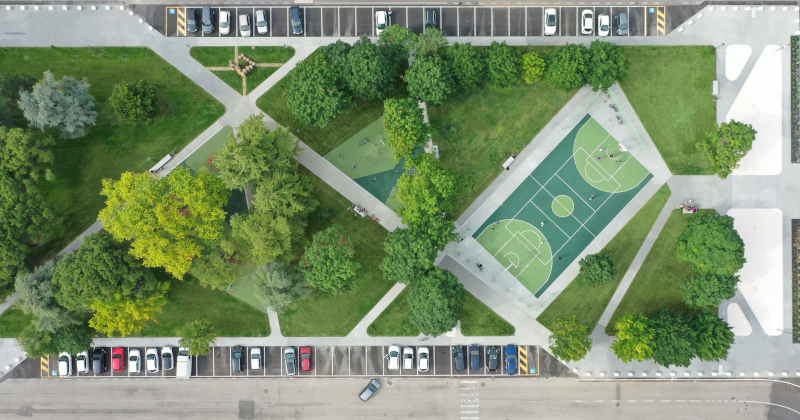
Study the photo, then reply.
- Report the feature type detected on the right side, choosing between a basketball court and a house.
basketball court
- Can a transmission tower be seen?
No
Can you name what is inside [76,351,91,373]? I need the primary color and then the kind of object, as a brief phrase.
white car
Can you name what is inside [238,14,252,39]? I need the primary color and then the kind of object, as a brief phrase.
white vehicle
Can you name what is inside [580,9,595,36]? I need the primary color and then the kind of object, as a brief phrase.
white car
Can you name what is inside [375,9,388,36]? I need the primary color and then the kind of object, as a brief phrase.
white vehicle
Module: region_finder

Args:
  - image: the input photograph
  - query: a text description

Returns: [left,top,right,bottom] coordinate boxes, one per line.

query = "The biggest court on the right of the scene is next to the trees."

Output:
[473,115,653,298]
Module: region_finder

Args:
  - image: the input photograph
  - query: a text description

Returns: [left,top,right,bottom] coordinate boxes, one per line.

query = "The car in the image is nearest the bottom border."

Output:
[358,377,381,403]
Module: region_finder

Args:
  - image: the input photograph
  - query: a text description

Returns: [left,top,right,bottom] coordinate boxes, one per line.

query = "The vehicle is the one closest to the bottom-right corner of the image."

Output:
[504,344,518,375]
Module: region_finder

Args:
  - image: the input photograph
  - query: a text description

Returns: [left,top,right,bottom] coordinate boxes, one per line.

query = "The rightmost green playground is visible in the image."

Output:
[324,116,434,211]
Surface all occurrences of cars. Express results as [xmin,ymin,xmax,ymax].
[238,14,252,39]
[186,9,199,34]
[230,345,244,372]
[504,344,518,375]
[402,346,414,369]
[128,348,142,373]
[543,8,558,37]
[452,344,465,371]
[250,347,262,370]
[58,353,73,376]
[358,377,381,403]
[284,345,297,376]
[76,351,91,373]
[91,347,107,374]
[417,346,430,372]
[290,6,303,36]
[375,9,388,36]
[486,345,498,371]
[597,13,610,37]
[111,347,126,372]
[255,9,269,36]
[201,6,215,35]
[162,345,174,369]
[425,8,437,27]
[218,10,232,36]
[469,343,480,370]
[383,343,400,370]
[580,9,595,36]
[299,346,311,371]
[145,347,160,372]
